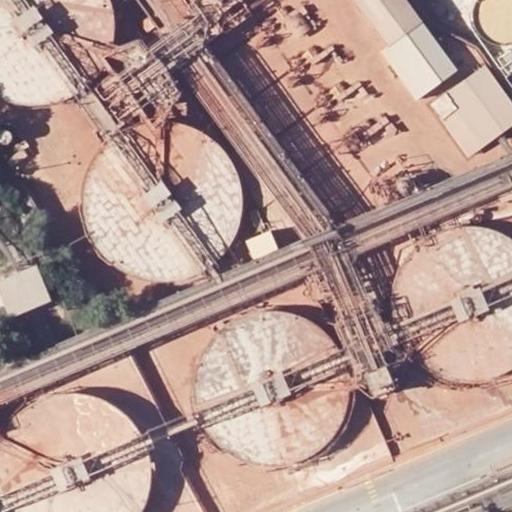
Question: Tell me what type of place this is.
industrial area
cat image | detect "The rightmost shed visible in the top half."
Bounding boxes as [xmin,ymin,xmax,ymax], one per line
[430,66,512,158]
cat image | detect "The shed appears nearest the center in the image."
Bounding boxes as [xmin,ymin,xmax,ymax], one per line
[246,231,278,260]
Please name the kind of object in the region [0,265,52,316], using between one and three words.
house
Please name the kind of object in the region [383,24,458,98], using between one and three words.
building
